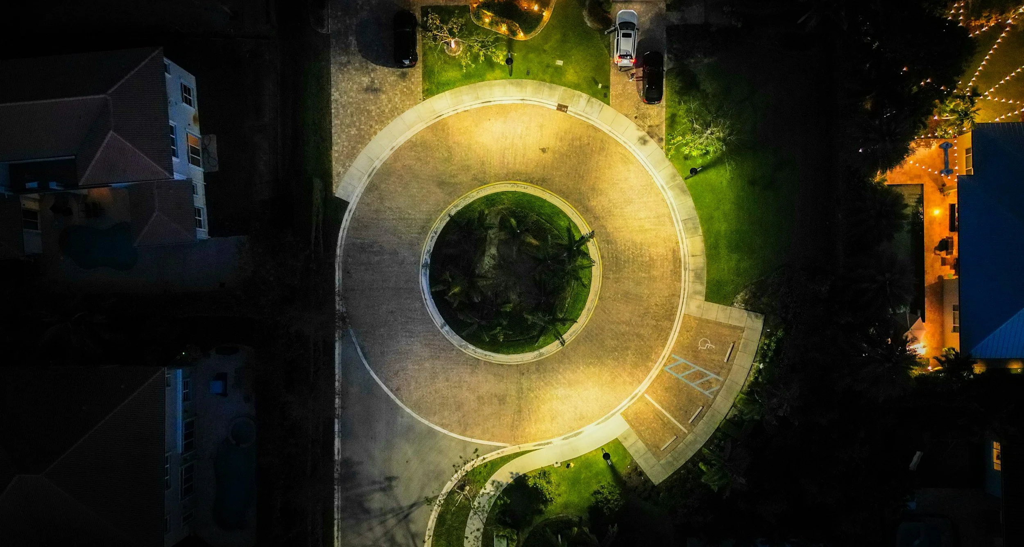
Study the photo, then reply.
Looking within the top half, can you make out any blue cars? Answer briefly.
No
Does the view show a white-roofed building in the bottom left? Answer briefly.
No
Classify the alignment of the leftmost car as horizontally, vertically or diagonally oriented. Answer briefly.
vertically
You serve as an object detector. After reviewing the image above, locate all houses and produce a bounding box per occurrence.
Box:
[0,366,198,547]
[943,111,1024,359]
[984,430,1024,547]
[0,46,209,261]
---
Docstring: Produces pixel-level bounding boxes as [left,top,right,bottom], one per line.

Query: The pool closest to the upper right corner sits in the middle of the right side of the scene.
[880,184,924,304]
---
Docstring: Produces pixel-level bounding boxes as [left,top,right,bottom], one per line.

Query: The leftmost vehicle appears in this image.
[390,11,420,69]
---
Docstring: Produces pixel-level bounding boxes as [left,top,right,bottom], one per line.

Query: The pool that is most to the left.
[59,221,140,271]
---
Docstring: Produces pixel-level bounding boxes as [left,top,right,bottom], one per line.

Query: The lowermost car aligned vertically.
[640,51,667,106]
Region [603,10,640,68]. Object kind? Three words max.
car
